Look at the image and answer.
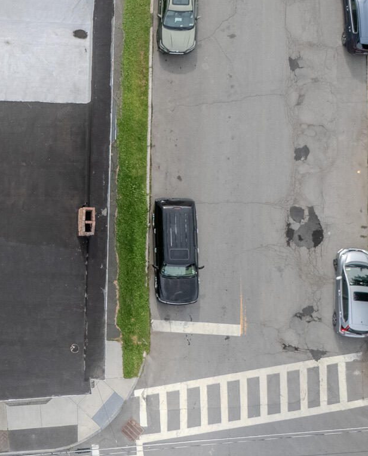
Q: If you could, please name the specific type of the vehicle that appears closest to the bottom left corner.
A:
automobile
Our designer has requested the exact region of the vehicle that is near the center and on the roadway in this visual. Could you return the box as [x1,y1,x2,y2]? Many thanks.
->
[151,195,204,308]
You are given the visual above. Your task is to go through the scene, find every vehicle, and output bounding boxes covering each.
[339,0,368,56]
[155,0,202,55]
[330,244,368,341]
[151,195,204,308]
